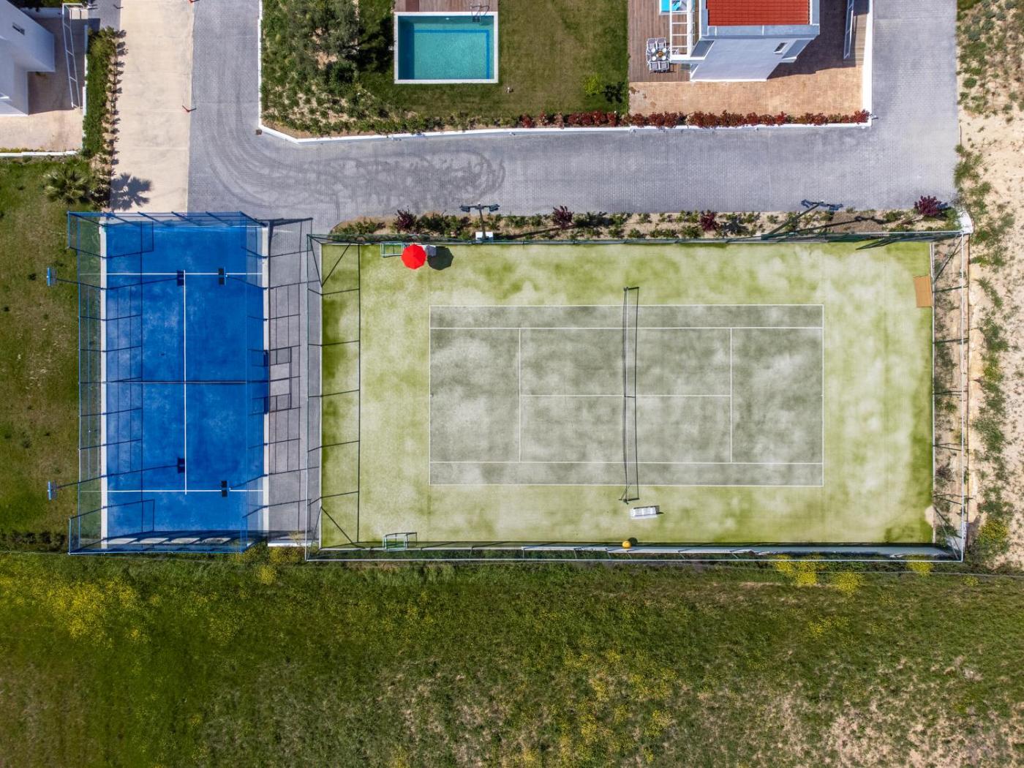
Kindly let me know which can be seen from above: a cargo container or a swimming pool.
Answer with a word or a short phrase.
swimming pool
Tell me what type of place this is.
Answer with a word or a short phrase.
sports ground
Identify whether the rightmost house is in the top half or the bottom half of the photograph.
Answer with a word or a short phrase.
top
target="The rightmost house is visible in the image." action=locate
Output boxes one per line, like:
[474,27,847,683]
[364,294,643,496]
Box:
[688,0,819,80]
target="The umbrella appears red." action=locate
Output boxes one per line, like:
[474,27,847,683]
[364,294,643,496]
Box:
[402,243,427,269]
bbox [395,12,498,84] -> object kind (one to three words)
swimming pool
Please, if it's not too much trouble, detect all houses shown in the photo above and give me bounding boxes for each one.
[688,0,819,80]
[0,0,55,115]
